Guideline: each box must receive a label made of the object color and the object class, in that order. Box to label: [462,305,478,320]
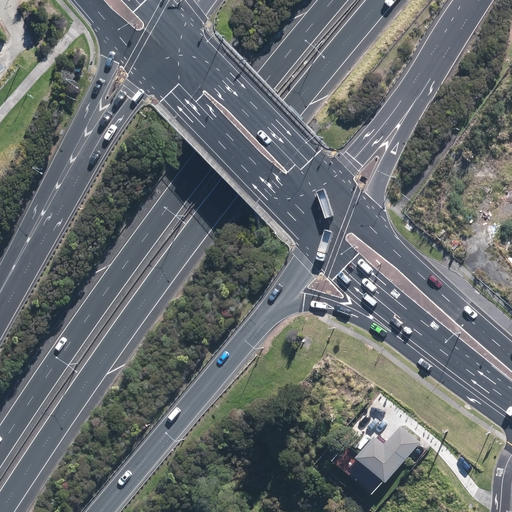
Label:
white car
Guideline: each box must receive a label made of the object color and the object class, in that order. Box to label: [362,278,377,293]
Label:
white vehicle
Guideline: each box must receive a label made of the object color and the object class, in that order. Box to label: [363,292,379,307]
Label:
white vehicle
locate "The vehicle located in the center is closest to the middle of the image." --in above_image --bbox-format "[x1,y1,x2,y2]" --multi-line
[270,284,282,300]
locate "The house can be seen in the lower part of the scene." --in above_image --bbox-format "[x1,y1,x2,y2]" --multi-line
[347,426,421,494]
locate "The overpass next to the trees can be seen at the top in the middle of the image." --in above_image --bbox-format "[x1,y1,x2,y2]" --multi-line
[150,30,325,244]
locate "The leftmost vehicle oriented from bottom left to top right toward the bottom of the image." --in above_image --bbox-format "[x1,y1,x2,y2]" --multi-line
[54,336,68,352]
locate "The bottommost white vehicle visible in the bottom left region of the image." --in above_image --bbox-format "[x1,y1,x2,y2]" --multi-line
[118,471,131,486]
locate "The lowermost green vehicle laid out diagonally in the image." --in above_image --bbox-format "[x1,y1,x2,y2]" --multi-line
[370,322,387,336]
